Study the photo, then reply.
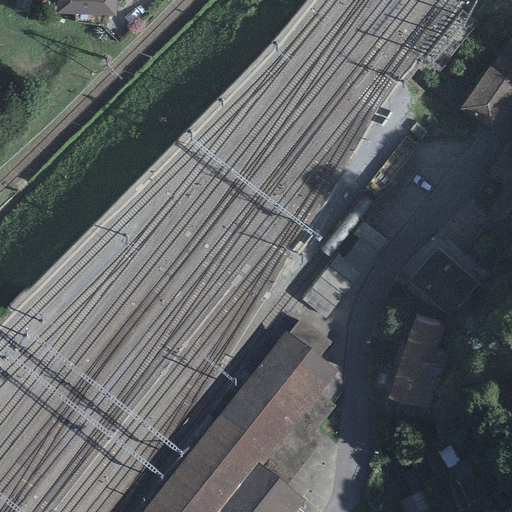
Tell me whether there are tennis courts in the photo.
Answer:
No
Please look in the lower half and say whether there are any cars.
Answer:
No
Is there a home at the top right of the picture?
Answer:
Yes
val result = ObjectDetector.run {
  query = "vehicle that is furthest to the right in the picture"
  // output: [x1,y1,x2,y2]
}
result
[412,174,434,194]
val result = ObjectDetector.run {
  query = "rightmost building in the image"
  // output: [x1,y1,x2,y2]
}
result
[462,65,512,130]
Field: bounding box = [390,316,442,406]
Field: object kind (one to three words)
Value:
house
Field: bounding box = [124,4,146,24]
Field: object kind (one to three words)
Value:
car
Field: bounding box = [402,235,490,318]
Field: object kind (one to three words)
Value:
house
